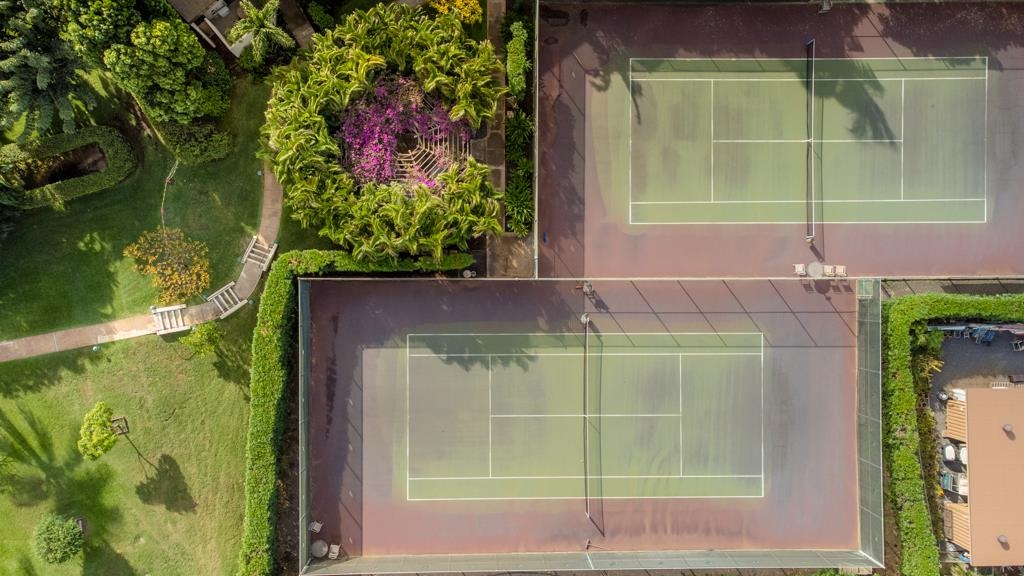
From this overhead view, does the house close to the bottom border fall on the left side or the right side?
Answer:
right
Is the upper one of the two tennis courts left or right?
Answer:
right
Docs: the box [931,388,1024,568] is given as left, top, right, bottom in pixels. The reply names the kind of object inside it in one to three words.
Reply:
house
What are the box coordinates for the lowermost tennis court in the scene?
[312,279,857,552]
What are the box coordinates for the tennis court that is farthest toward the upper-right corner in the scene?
[538,2,1024,278]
